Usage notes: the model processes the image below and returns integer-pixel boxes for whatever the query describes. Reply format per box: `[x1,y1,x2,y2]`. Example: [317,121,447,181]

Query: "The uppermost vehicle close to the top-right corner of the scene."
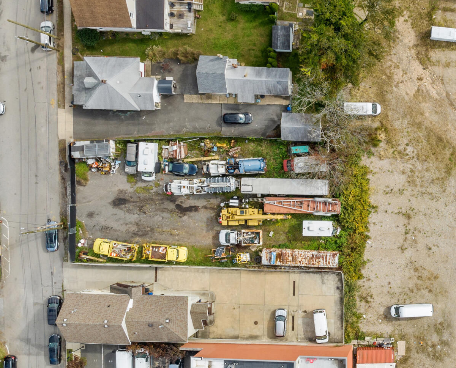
[430,27,456,42]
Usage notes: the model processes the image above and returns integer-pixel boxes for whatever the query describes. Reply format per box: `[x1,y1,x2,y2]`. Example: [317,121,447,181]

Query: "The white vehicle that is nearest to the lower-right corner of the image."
[391,302,432,319]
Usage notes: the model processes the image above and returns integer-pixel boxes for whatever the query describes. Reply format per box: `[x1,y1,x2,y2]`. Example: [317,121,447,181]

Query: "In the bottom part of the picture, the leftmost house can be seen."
[58,282,216,345]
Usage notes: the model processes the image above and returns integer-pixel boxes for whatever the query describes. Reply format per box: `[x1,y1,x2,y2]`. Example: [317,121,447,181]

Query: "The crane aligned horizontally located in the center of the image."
[224,208,289,226]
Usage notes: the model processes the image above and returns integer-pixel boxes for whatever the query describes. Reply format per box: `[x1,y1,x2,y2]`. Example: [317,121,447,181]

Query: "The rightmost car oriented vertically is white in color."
[314,308,329,342]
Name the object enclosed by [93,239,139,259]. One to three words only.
vehicle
